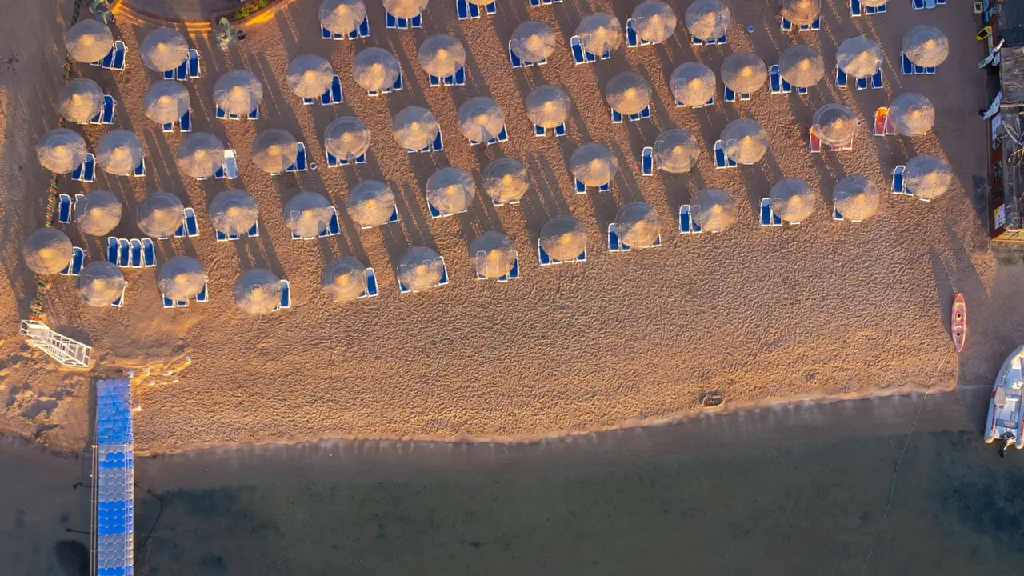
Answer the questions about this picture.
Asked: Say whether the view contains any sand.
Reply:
Yes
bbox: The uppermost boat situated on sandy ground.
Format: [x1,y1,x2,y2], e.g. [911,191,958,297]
[952,292,966,352]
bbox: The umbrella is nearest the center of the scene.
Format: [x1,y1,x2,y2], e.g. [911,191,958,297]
[468,231,517,277]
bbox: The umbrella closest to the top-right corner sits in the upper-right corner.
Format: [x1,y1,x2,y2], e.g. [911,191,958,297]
[901,25,949,68]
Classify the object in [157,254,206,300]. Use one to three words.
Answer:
umbrella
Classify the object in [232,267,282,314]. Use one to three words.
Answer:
umbrella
